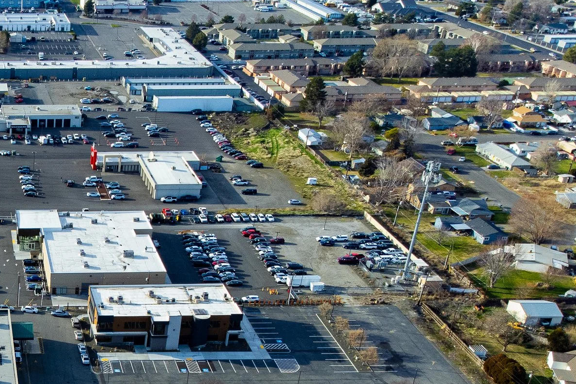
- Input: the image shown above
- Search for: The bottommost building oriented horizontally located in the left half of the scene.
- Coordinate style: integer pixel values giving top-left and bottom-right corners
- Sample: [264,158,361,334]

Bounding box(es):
[86,284,246,350]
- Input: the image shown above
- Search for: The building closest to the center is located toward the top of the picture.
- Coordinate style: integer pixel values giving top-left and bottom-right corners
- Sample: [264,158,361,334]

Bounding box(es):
[296,131,326,149]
